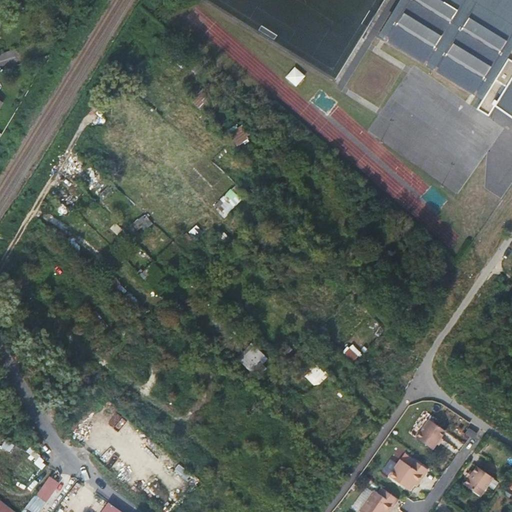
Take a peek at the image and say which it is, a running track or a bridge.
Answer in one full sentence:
Looking from above, you can make out a running track.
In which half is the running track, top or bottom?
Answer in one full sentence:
The top half of the photo is where the running track is.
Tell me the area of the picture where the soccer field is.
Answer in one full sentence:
The soccer field is in the top part of the image.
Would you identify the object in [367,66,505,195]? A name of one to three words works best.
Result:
sports court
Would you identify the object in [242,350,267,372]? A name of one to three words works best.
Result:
shed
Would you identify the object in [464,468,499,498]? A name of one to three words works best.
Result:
house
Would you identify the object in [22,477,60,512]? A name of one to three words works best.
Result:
building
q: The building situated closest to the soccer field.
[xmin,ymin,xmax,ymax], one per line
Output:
[378,0,512,100]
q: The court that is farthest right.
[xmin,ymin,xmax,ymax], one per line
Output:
[484,108,512,199]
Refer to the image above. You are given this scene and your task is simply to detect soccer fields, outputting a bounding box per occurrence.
[210,0,383,79]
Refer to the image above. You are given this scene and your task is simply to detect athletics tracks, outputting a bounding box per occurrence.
[186,6,459,245]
